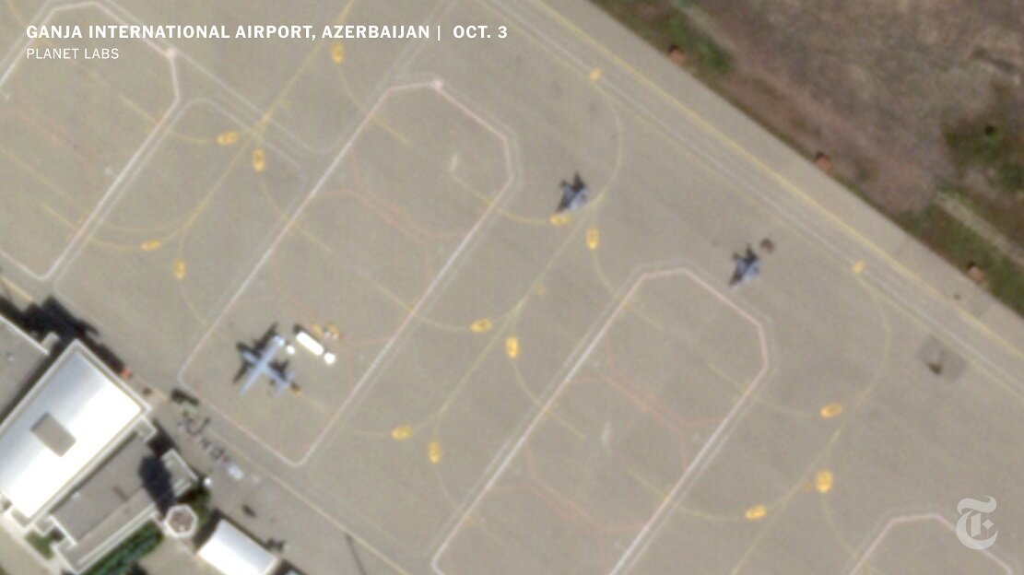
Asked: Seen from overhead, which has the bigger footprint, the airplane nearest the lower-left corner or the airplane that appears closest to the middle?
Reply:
the airplane nearest the lower-left corner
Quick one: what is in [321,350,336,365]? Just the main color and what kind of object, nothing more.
white vehicle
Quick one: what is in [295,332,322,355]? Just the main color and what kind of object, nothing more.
white truck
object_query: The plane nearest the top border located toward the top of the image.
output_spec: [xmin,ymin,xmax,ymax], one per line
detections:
[559,181,595,215]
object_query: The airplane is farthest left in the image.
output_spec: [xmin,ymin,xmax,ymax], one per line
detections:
[240,338,294,397]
